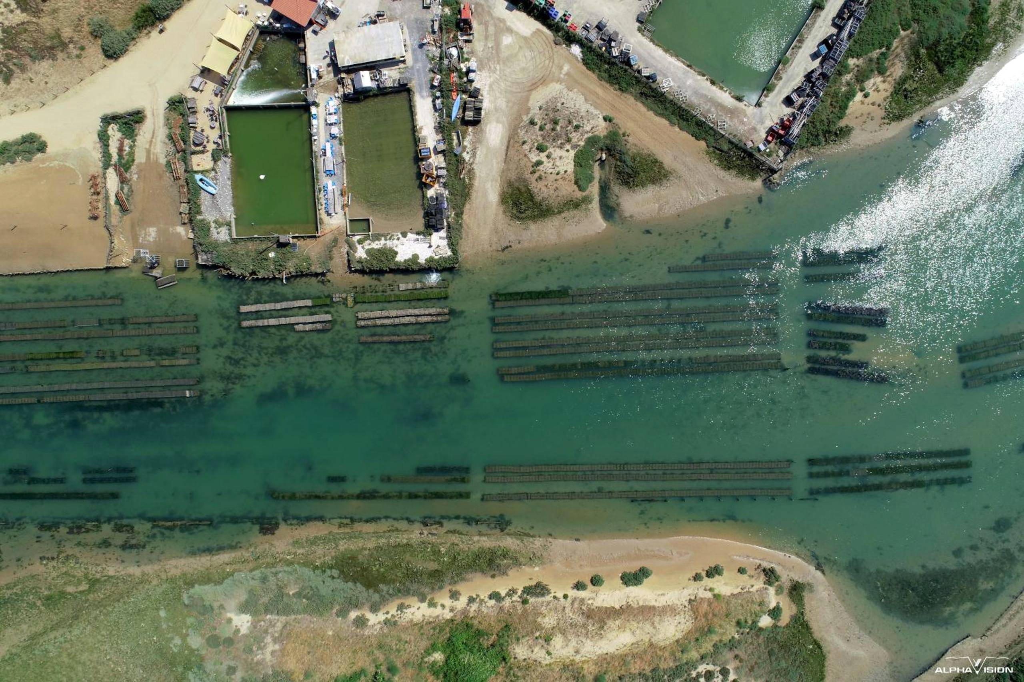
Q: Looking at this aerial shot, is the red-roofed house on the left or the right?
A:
left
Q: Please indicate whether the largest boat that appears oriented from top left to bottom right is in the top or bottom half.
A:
top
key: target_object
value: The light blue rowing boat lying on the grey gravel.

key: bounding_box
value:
[195,174,220,197]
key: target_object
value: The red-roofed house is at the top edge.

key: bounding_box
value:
[270,0,327,34]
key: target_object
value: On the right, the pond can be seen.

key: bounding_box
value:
[652,0,818,107]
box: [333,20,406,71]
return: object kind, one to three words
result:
shed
